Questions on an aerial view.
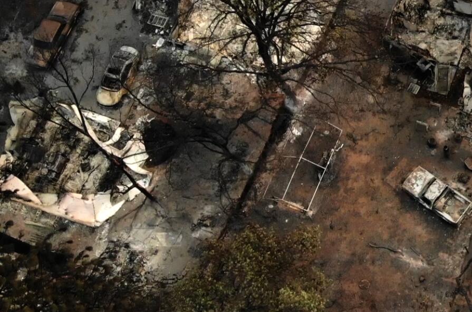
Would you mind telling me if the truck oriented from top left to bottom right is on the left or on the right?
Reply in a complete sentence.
The truck oriented from top left to bottom right is on the right side of the image.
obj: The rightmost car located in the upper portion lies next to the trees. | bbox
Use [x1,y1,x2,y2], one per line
[104,50,140,106]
